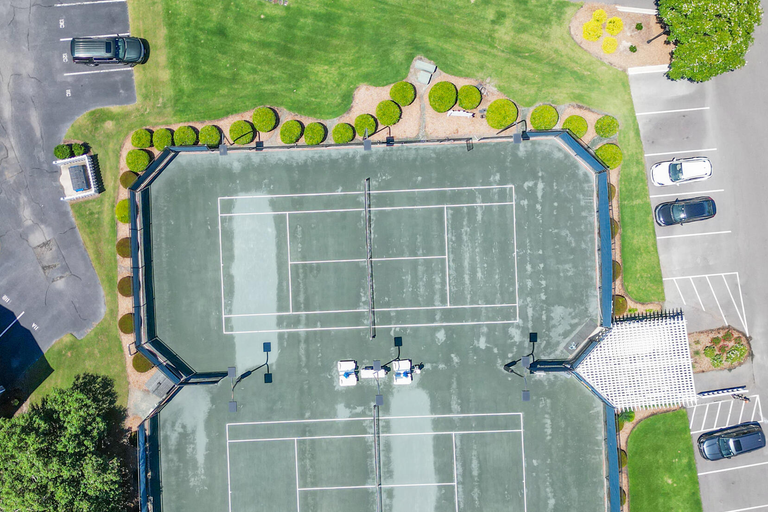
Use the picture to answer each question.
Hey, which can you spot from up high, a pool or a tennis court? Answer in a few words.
tennis court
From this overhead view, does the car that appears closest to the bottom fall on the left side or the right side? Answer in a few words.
right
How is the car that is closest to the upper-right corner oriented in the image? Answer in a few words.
from left to right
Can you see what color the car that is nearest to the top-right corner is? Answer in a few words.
white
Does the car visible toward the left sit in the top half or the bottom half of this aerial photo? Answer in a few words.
top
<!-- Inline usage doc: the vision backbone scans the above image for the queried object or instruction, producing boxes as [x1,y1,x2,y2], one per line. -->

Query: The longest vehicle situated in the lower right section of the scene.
[694,423,767,460]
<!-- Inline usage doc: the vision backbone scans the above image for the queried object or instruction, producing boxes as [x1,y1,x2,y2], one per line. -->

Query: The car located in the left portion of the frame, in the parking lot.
[70,33,144,67]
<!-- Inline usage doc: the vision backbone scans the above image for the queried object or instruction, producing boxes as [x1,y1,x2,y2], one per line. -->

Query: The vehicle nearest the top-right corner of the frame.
[648,157,711,186]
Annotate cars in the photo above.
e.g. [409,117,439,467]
[70,33,144,67]
[694,423,767,460]
[651,198,716,227]
[648,157,711,186]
